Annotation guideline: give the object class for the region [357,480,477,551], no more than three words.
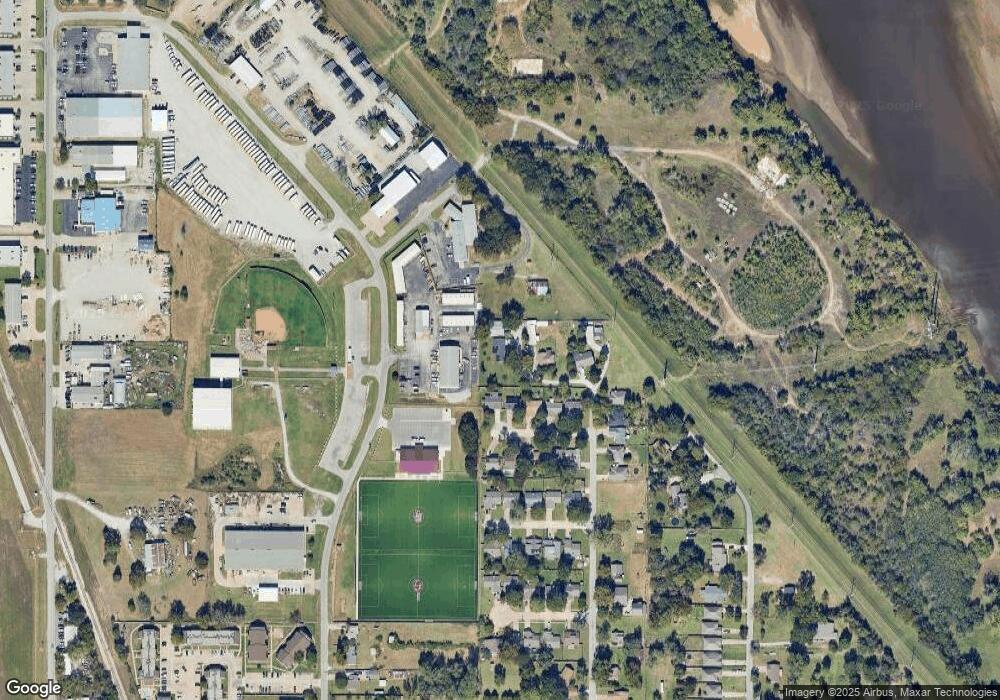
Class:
soccer field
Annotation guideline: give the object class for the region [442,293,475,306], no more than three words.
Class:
building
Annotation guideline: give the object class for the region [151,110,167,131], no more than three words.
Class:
shed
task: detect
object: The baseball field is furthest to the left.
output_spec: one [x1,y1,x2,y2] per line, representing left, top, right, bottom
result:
[214,266,327,367]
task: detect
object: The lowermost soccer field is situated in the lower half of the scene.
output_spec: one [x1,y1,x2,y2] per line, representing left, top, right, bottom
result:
[357,551,478,620]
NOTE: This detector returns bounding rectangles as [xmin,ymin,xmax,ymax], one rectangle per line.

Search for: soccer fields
[357,480,477,551]
[357,551,478,620]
